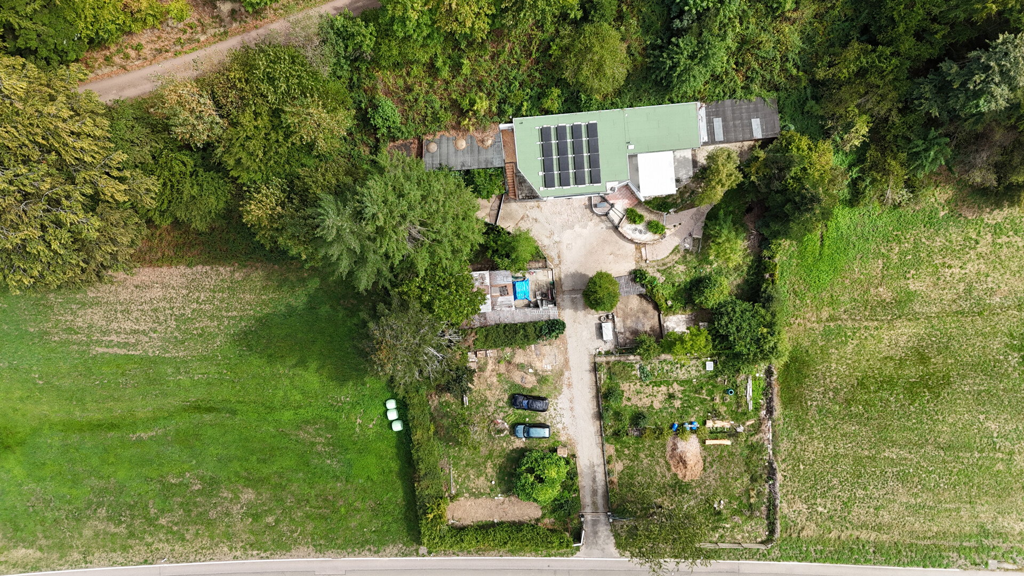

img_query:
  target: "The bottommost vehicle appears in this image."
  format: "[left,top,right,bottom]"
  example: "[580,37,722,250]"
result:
[515,423,550,440]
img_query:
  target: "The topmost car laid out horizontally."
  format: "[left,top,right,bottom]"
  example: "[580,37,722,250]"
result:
[511,394,548,411]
